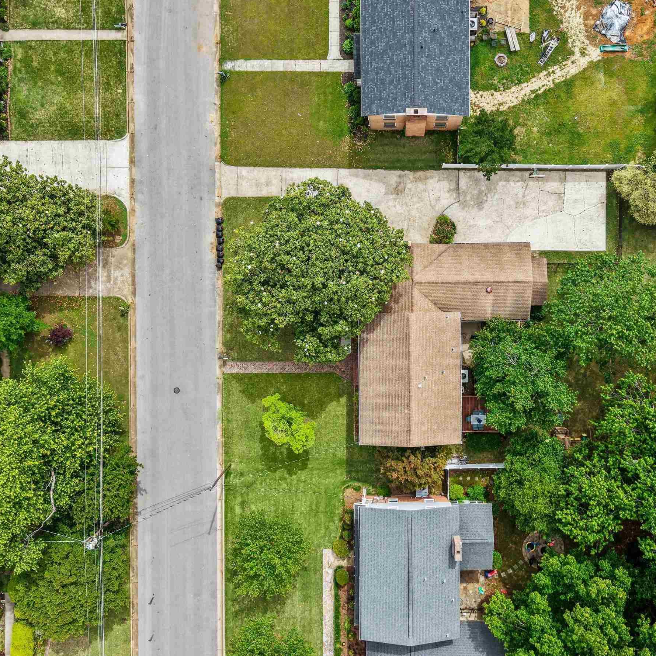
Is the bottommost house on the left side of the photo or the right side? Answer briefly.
right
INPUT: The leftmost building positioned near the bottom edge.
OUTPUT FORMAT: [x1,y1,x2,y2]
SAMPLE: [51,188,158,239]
[353,498,519,656]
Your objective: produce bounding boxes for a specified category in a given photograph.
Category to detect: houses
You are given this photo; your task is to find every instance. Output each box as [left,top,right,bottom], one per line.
[353,498,519,656]
[354,241,549,451]
[353,0,470,142]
